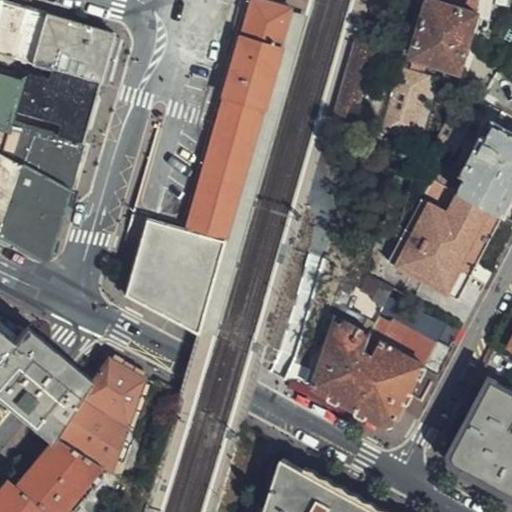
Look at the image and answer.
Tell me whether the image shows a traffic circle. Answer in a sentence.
No, there is no traffic circle in the image.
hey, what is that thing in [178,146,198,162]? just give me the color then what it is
white car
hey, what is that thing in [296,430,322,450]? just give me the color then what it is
white vehicle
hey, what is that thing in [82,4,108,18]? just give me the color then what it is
white vehicle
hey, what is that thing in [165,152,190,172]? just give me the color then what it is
gray car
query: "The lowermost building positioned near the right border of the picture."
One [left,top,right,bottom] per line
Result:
[442,374,512,512]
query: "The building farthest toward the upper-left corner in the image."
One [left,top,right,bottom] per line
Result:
[0,2,43,66]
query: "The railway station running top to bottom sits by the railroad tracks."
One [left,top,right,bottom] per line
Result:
[149,0,358,512]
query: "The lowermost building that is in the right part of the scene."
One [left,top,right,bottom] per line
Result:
[260,454,394,512]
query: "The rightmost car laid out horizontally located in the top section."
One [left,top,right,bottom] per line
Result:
[188,65,211,78]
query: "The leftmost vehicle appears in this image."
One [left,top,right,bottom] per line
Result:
[2,249,24,266]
